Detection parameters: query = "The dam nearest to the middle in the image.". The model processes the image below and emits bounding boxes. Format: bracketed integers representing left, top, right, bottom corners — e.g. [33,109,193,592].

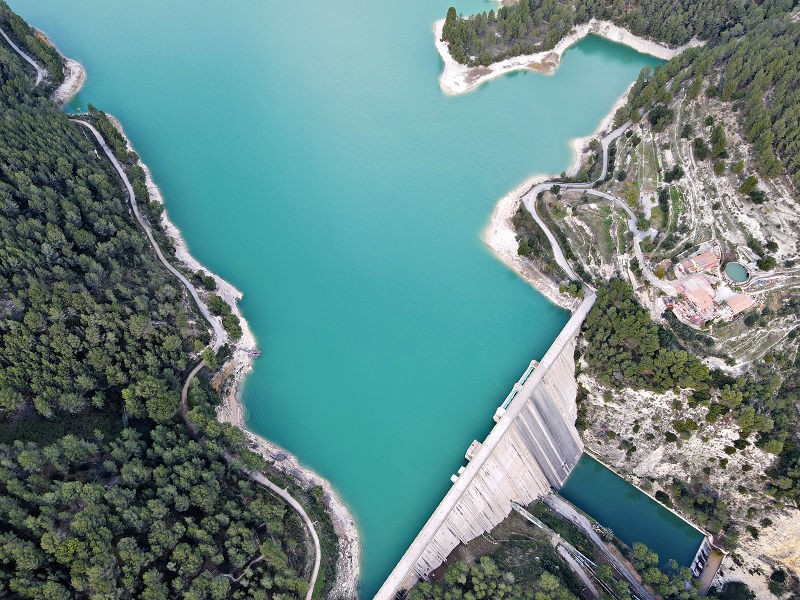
[372,292,595,600]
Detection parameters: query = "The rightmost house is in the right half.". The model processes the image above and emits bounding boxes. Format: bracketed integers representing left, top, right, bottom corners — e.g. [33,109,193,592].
[726,294,754,316]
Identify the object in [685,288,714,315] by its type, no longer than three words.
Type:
house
